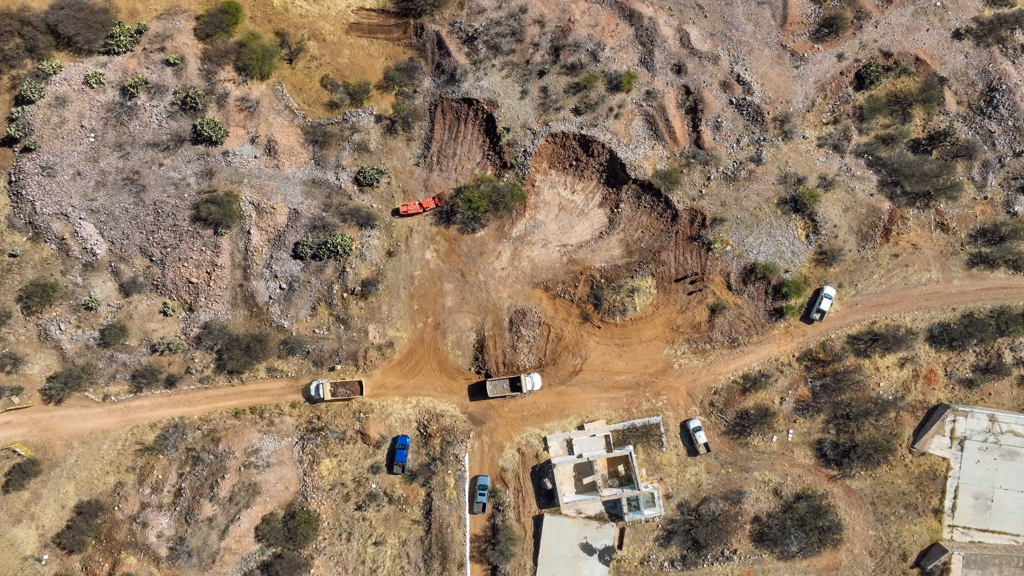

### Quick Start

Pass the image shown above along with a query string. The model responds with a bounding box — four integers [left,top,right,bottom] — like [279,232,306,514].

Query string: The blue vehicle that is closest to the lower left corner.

[392,434,410,474]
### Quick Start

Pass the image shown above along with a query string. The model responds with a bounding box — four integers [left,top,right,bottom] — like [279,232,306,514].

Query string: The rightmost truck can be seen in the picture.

[807,284,833,324]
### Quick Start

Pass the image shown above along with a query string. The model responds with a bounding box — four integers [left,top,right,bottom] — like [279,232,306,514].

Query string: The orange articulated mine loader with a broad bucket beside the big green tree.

[399,190,452,215]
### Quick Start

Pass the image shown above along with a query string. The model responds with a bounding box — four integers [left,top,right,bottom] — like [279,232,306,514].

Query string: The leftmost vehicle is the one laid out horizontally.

[312,380,366,404]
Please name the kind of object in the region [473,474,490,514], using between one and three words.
vehicle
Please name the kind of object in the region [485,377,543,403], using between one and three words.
truck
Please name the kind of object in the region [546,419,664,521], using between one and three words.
house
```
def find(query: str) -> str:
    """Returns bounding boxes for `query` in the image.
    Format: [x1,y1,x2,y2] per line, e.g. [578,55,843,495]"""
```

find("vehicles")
[312,380,366,404]
[807,284,833,324]
[392,434,410,474]
[685,416,713,457]
[485,377,543,403]
[473,474,490,514]
[399,190,452,215]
